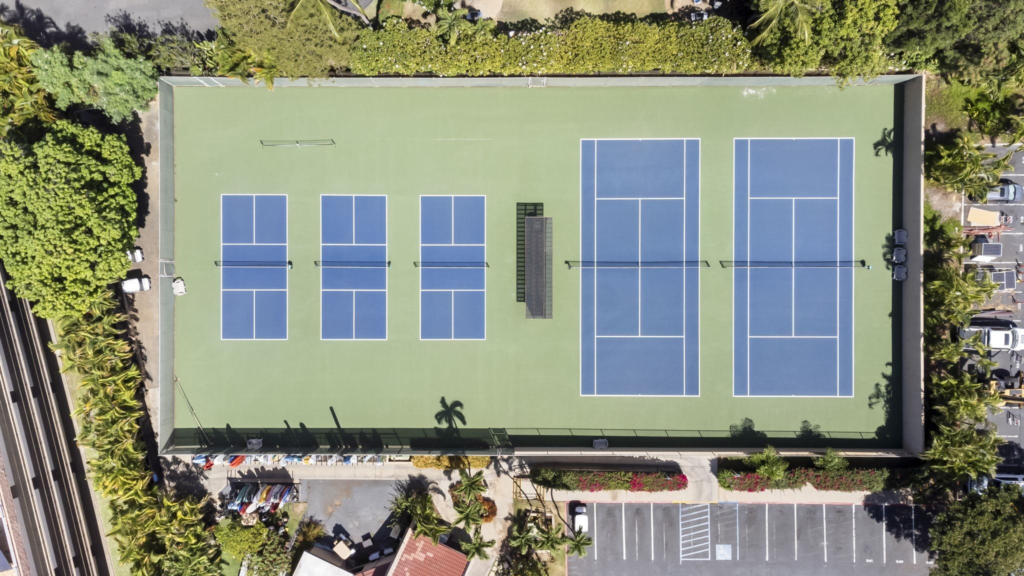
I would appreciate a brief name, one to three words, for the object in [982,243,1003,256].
solar panel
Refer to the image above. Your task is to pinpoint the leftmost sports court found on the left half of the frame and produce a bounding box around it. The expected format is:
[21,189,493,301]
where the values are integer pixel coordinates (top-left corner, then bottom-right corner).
[221,194,287,340]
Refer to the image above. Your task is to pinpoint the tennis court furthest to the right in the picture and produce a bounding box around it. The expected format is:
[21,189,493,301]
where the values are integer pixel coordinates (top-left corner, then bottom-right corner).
[734,138,854,397]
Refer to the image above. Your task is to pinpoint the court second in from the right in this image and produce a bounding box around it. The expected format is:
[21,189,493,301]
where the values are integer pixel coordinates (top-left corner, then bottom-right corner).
[581,138,700,396]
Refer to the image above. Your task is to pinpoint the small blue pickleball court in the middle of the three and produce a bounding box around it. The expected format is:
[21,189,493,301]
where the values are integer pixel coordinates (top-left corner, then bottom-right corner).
[321,194,387,340]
